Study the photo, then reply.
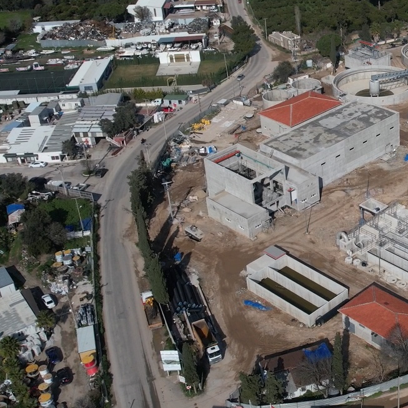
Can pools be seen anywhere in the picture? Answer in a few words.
No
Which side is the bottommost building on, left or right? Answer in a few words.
right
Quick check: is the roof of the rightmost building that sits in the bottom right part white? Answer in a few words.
No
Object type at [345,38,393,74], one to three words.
building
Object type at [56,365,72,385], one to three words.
car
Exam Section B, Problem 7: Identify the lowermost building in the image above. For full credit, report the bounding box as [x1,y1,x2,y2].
[259,333,329,400]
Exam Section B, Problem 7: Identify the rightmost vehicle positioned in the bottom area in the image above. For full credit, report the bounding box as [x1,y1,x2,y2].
[188,308,218,358]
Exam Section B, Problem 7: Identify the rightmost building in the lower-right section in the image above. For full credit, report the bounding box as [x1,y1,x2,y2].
[333,279,408,359]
